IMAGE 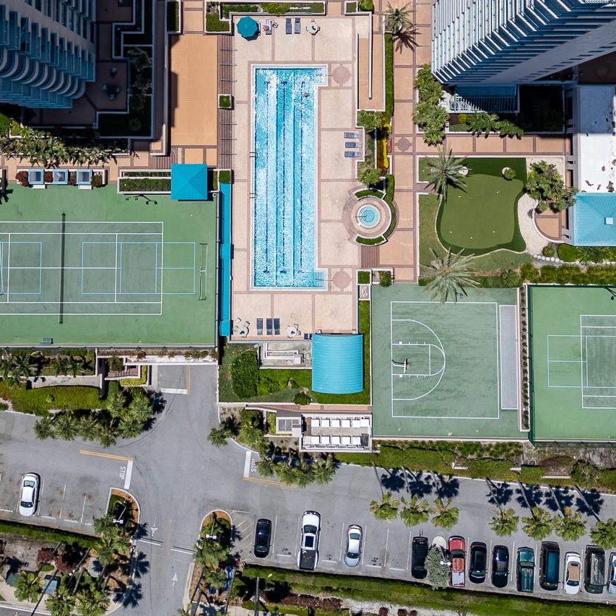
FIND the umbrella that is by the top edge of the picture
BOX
[236,16,258,39]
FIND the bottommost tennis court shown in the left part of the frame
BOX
[0,186,214,345]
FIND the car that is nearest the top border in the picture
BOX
[18,473,41,514]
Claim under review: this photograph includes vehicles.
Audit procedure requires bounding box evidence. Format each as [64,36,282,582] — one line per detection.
[583,544,604,589]
[468,540,487,582]
[300,513,319,565]
[447,533,466,584]
[18,473,41,514]
[343,522,362,565]
[539,542,558,586]
[562,552,581,591]
[514,542,535,593]
[253,516,272,557]
[491,544,510,586]
[410,535,429,577]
